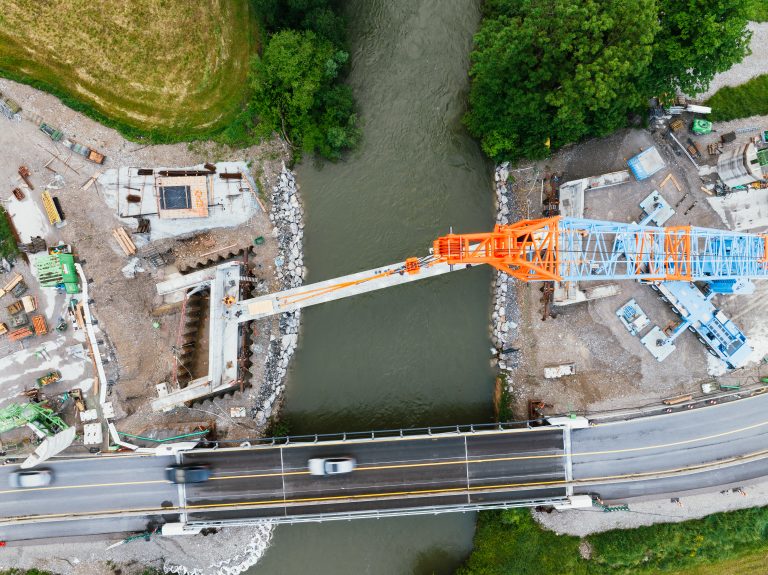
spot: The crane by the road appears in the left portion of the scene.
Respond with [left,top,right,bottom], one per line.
[0,394,88,469]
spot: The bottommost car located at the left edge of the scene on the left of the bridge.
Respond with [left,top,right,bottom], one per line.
[10,466,56,492]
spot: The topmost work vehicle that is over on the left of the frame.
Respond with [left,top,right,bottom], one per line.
[68,382,92,418]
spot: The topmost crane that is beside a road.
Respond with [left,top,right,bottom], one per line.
[404,205,768,370]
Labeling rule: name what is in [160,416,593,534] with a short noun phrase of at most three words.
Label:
bridge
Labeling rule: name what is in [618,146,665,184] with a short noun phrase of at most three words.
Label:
shipping container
